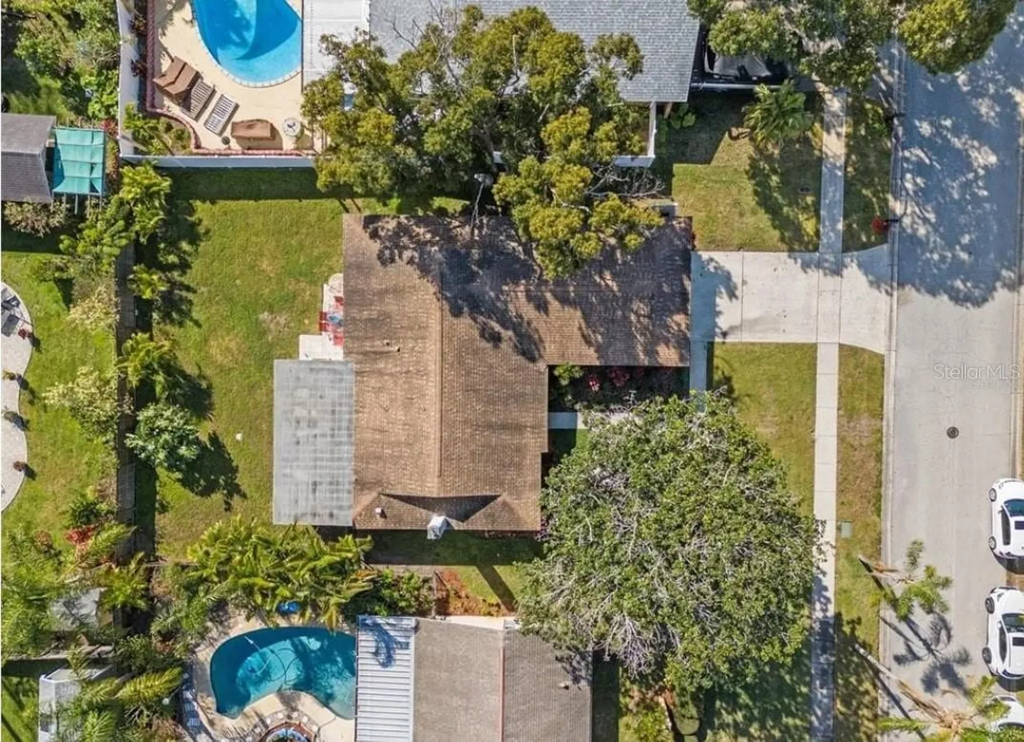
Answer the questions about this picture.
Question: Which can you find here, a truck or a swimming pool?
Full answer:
It is a swimming pool that can be seen here.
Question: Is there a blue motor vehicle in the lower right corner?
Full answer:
No, no blue motor vehicle appears in the lower right corner.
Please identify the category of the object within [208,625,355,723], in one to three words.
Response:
swimming pool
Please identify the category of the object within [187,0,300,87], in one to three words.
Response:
swimming pool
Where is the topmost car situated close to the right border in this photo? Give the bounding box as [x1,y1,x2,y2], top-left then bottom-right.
[990,476,1024,560]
